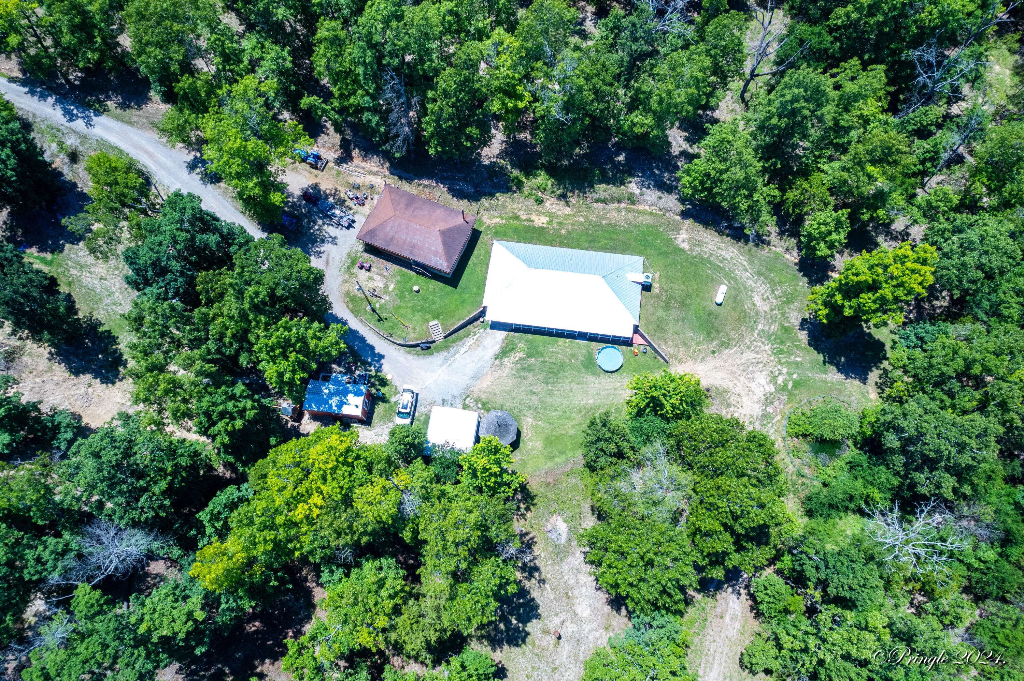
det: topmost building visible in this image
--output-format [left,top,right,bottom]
[356,184,477,290]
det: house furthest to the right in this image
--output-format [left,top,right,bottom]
[482,240,648,347]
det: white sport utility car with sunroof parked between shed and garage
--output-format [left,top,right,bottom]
[394,384,416,426]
